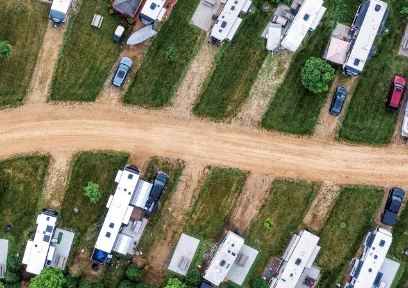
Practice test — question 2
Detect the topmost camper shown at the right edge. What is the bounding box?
[343,0,390,77]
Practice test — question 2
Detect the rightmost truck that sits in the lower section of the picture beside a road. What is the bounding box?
[380,186,405,228]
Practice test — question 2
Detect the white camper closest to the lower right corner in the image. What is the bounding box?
[345,226,392,288]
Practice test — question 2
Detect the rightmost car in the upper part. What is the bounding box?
[386,76,406,111]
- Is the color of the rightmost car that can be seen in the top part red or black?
red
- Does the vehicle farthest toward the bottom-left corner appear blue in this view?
No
